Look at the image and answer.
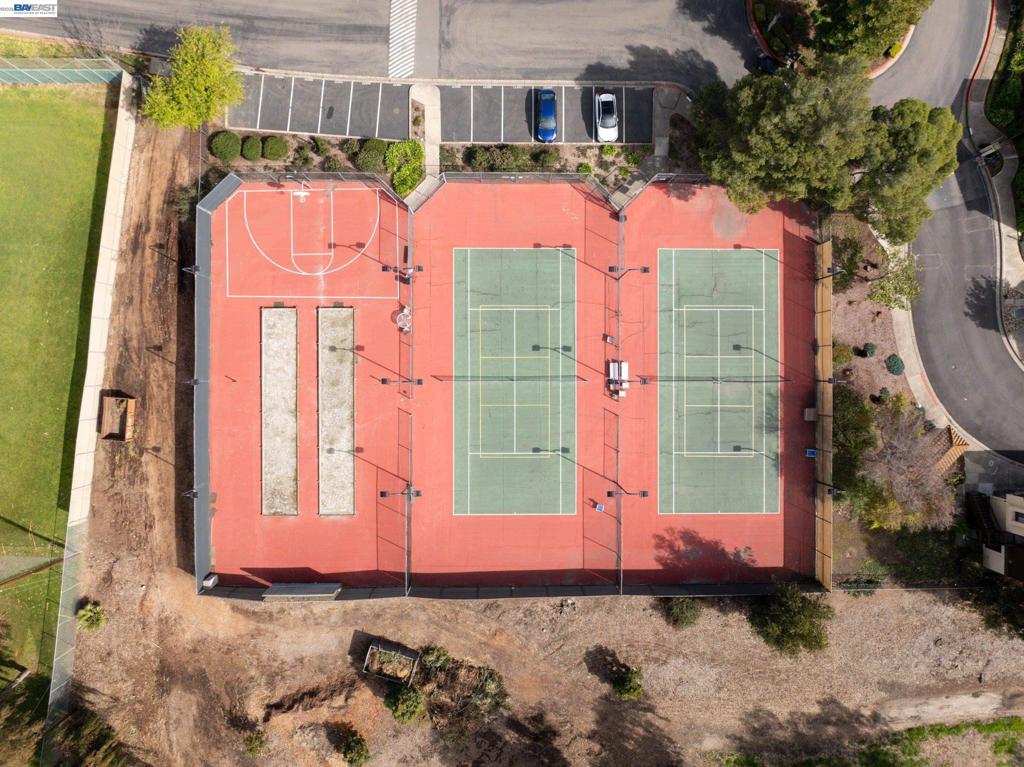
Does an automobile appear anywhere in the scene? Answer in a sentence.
Yes, you can see an automobile in this photo.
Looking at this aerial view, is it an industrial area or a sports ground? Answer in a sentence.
This looks like a sports ground.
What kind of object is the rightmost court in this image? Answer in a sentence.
What you see as the rightmost court is a tennis court.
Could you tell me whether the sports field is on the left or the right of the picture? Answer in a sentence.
The sports field appears in the left half of the scene.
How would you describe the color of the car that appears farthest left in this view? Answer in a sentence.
From above, the car that appears farthest left appears blue.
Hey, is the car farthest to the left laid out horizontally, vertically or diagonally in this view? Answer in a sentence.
The car farthest to the left is oriented vertically.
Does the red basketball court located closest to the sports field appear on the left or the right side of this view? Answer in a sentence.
The red basketball court located closest to the sports field is on the left side of the image.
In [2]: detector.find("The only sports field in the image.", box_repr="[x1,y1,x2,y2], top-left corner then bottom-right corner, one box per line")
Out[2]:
[0,83,137,767]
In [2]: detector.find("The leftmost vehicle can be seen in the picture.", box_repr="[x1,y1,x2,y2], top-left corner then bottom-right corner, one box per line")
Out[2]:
[535,88,559,141]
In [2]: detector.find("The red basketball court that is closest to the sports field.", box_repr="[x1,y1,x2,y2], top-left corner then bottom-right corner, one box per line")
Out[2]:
[211,182,411,589]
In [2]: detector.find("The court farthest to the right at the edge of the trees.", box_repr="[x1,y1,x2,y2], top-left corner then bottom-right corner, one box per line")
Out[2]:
[617,183,816,586]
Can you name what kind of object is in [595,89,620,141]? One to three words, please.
car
